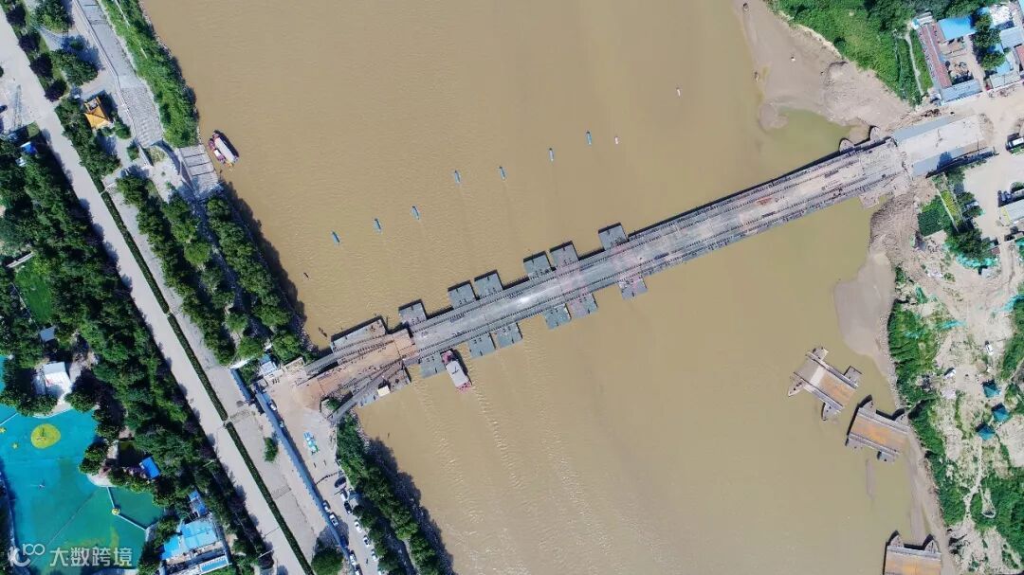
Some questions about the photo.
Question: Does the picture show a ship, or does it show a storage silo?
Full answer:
I can see a ship in this picture.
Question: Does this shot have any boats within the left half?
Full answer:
Yes, within the left half there is a boat.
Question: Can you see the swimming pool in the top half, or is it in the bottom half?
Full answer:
It is in the bottom half that the swimming pool appears.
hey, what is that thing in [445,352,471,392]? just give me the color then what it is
white boat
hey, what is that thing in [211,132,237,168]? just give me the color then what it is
white boat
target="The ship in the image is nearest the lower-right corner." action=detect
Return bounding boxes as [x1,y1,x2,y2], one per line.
[883,532,941,575]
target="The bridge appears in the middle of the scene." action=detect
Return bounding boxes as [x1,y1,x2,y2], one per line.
[300,133,900,420]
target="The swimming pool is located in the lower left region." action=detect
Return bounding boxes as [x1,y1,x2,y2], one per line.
[0,359,163,575]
